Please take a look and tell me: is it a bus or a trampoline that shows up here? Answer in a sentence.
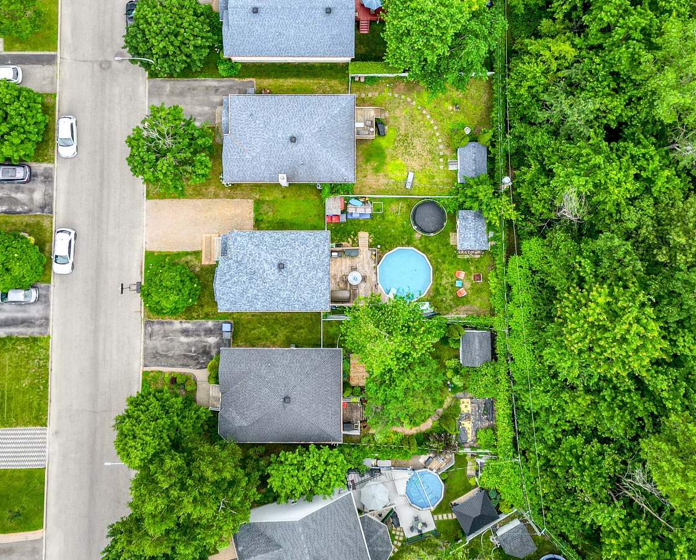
Looking from above, you can make out a trampoline.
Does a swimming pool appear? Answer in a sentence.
Yes, a swimming pool is visible in the scene.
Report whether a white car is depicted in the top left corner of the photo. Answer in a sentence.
Yes, in the top left corner of the photo there is a white car.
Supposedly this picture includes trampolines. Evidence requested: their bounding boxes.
[537,551,562,560]
[410,199,446,235]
